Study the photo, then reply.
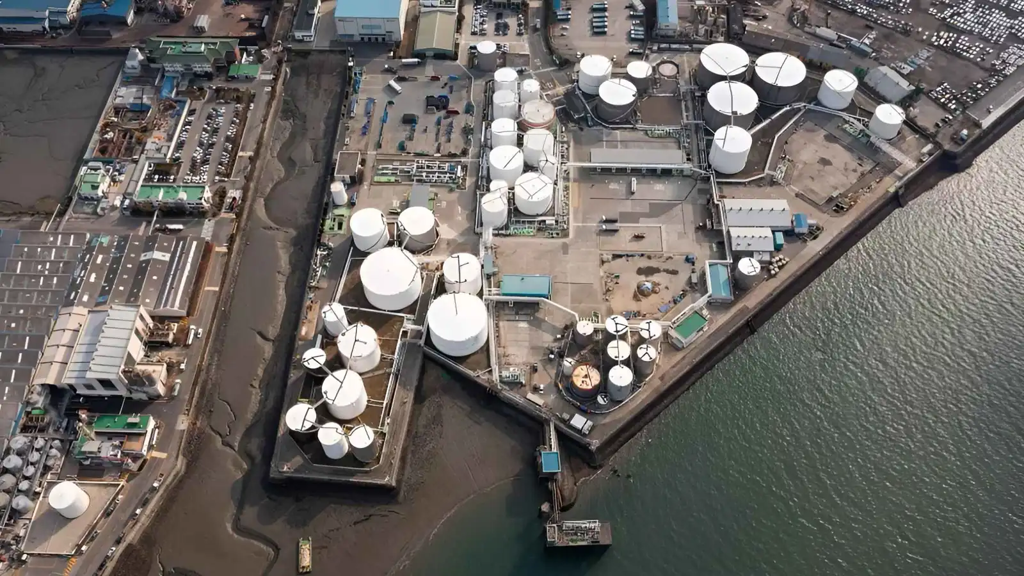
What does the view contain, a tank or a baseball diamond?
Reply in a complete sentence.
There is a tank in the scene.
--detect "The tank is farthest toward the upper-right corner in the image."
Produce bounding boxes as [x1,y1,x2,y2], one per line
[867,103,907,141]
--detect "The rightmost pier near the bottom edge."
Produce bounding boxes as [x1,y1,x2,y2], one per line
[536,417,612,551]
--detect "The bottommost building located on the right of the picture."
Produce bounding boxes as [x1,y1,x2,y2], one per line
[668,305,711,351]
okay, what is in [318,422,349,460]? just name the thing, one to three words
storage tank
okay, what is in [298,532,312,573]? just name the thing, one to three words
ship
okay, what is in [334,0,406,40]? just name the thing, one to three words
building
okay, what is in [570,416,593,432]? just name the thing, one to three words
vehicle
